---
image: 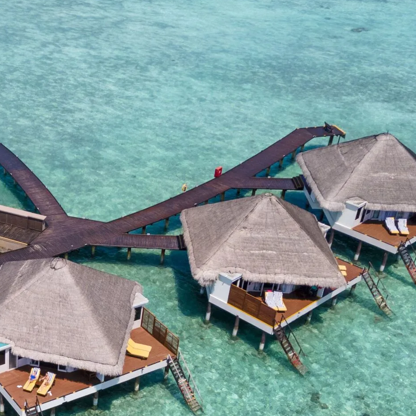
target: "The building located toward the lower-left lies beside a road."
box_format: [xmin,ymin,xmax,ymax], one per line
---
[0,257,207,416]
